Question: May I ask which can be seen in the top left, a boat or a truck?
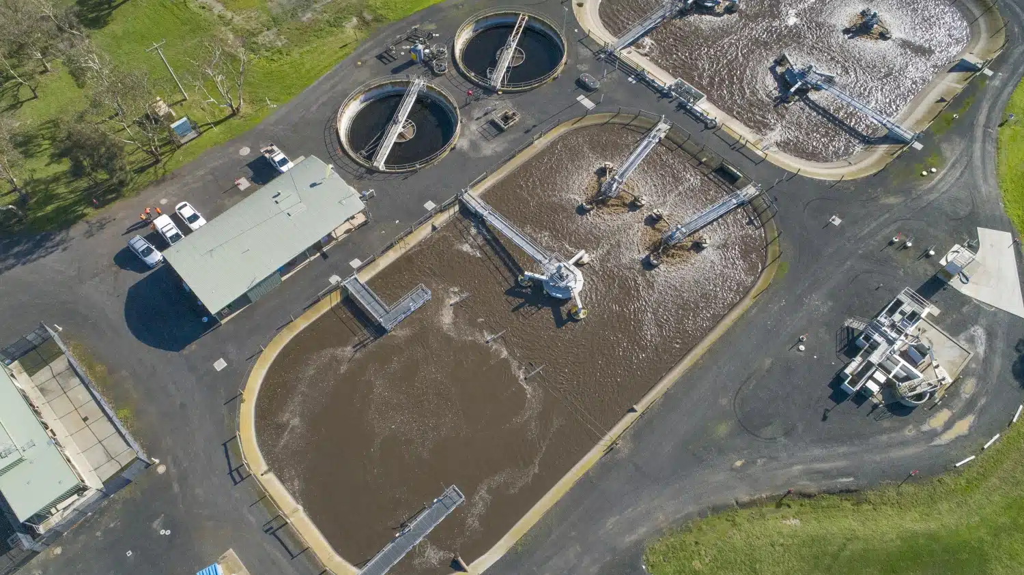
truck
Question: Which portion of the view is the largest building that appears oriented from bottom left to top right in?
left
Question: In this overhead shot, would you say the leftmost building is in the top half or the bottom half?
bottom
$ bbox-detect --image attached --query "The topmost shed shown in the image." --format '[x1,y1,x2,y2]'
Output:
[169,115,197,145]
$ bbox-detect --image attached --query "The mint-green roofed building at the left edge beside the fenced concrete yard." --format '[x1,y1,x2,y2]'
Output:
[0,360,92,524]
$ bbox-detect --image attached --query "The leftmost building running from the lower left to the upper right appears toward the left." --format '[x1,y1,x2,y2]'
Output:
[162,157,368,332]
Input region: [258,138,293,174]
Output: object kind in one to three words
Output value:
truck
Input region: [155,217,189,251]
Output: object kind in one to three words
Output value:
truck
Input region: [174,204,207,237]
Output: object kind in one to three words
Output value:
car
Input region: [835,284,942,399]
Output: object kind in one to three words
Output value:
building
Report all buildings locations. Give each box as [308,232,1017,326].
[169,115,197,145]
[0,360,92,524]
[162,157,368,332]
[835,284,942,399]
